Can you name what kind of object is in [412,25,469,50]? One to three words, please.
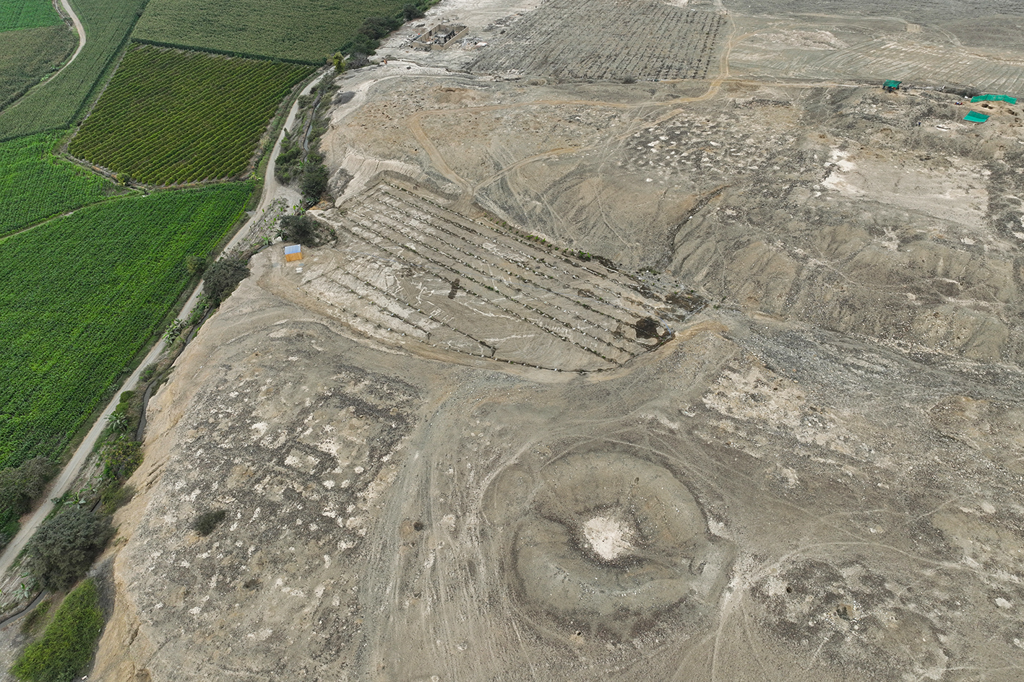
building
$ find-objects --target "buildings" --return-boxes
[284,245,303,261]
[412,25,469,50]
